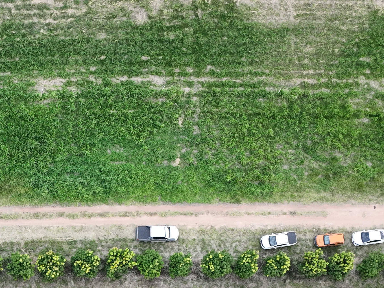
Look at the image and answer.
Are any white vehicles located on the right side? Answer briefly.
Yes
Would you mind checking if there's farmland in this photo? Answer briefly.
Yes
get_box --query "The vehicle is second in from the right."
[312,231,347,249]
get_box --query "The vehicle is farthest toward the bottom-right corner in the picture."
[349,229,384,248]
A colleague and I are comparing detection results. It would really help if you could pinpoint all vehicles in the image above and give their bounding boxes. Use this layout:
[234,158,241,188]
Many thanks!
[135,224,178,243]
[258,230,298,250]
[349,229,384,248]
[312,231,347,249]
